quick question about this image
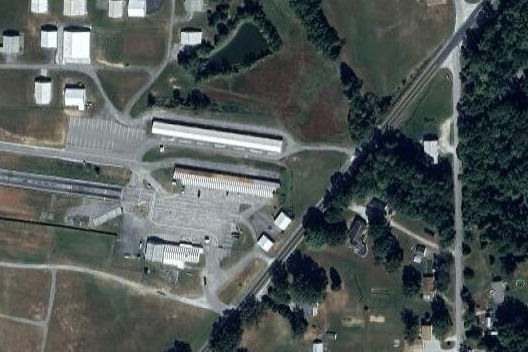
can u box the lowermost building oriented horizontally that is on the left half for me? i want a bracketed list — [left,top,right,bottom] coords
[144,244,202,270]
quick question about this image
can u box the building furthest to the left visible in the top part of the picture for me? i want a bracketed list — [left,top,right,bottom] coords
[0,36,23,54]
